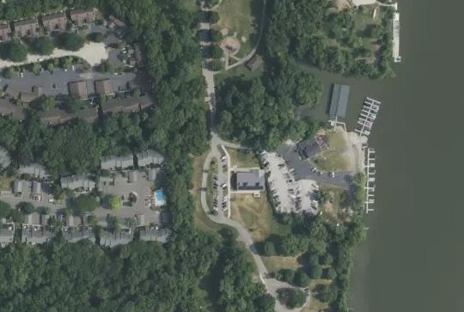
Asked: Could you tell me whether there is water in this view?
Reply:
Yes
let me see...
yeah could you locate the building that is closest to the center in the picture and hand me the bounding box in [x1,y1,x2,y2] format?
[238,170,266,191]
